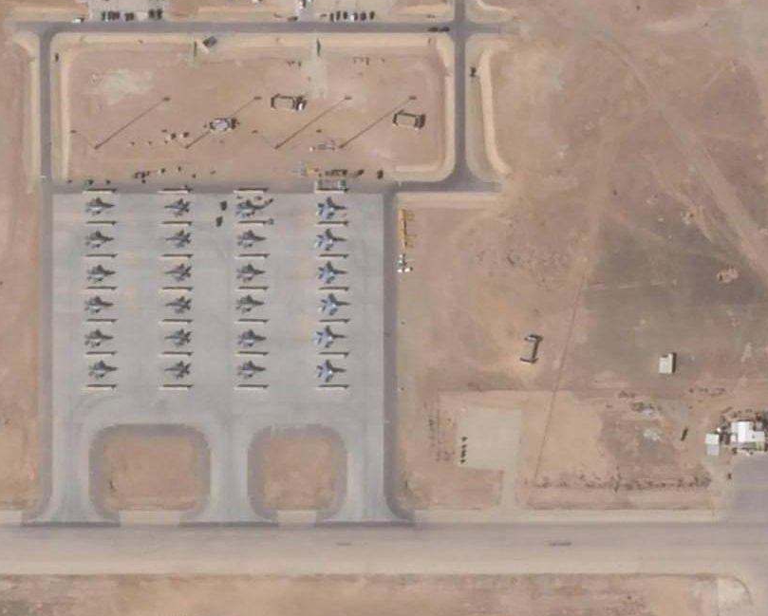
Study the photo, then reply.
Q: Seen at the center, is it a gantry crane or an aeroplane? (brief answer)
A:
aeroplane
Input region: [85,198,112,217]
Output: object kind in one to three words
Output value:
airplane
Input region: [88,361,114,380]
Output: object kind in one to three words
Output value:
airplane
